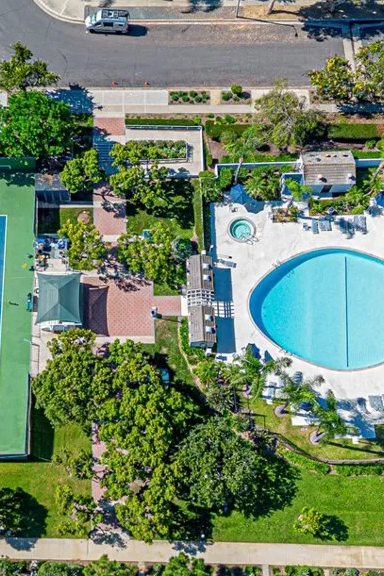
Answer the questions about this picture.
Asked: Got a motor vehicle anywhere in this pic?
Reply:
Yes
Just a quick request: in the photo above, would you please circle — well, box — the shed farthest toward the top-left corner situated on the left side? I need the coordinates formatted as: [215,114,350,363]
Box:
[35,173,71,198]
